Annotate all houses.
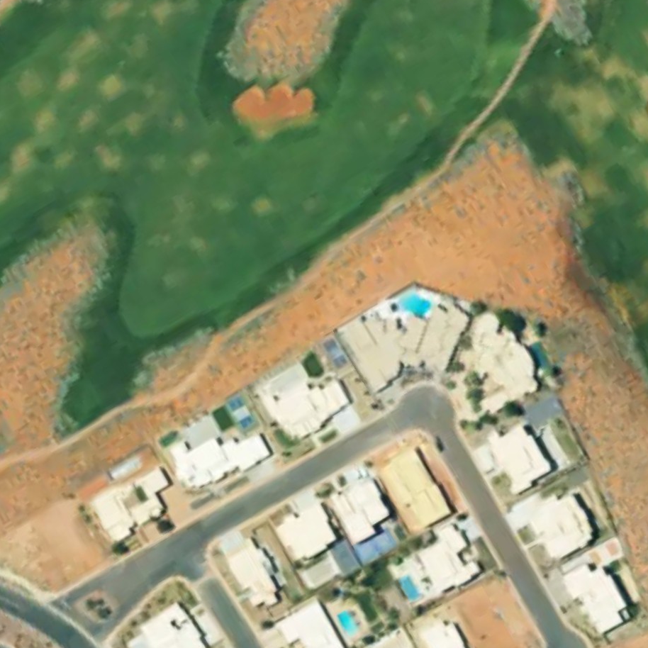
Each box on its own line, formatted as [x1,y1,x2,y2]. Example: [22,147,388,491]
[484,425,546,494]
[472,313,537,412]
[93,469,171,537]
[278,603,341,648]
[562,565,626,632]
[328,475,391,545]
[388,450,450,528]
[276,505,338,562]
[416,527,481,594]
[370,632,410,648]
[420,621,467,648]
[337,301,467,393]
[263,373,352,442]
[227,548,281,613]
[167,426,271,490]
[528,487,595,562]
[146,606,199,648]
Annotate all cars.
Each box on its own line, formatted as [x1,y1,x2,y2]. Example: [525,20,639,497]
[434,436,443,451]
[360,465,368,476]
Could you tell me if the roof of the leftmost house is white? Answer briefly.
Yes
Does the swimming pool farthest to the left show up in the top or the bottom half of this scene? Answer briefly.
bottom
